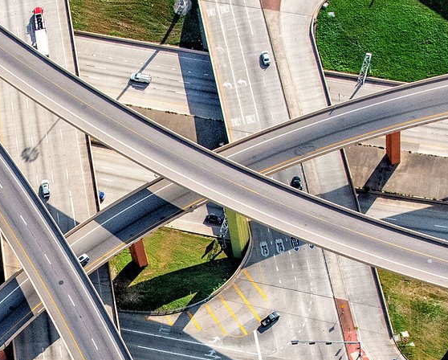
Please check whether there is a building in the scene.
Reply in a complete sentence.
No, I find no building anywhere in the image.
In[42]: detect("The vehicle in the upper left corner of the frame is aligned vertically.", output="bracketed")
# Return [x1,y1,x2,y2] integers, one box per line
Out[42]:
[34,14,51,54]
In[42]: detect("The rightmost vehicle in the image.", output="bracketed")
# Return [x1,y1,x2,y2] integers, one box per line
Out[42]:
[290,173,303,191]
